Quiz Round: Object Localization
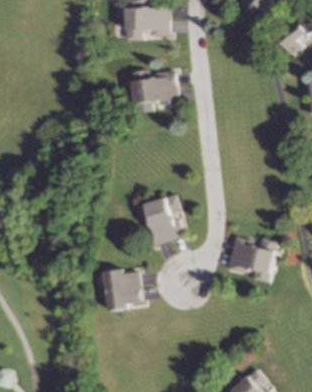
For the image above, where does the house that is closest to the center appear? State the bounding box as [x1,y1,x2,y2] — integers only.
[143,194,188,245]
